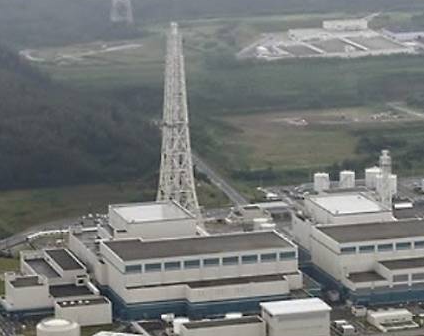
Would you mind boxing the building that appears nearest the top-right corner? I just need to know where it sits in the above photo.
[376,25,424,39]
